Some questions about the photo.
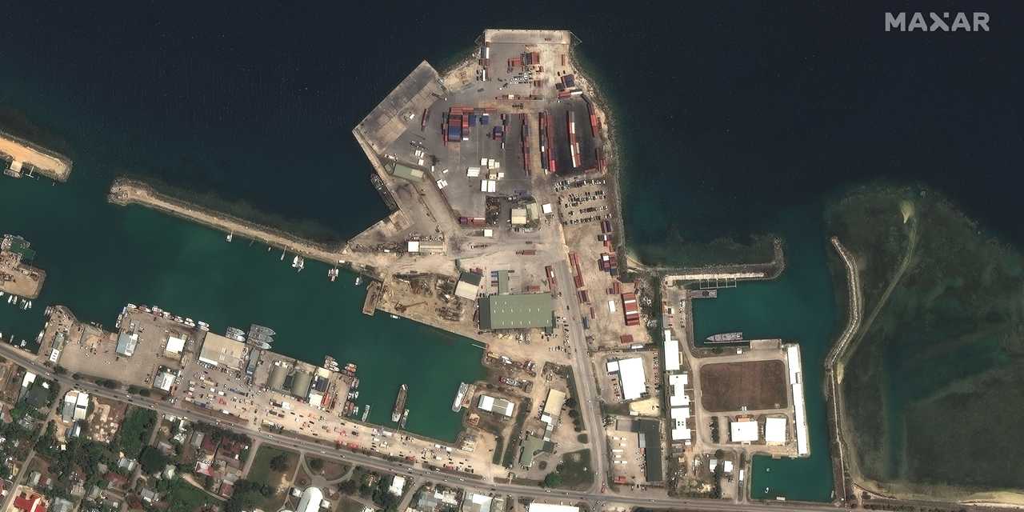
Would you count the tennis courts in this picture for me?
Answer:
none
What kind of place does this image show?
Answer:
port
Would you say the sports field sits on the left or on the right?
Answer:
right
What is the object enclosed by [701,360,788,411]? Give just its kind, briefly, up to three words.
sports field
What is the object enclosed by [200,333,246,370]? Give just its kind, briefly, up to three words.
building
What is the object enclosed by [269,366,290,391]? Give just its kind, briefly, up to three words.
shed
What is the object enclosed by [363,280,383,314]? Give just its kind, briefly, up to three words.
ship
